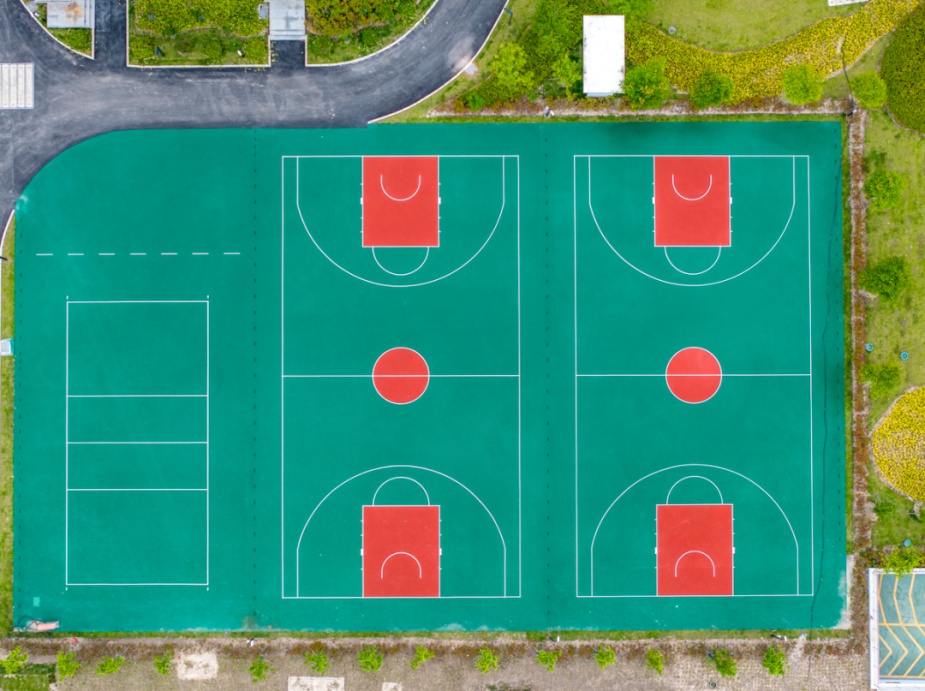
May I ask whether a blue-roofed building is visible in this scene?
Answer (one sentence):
No, there appears to be no blue-roofed building in this shot.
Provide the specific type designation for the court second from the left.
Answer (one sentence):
It turns out the court second from the left is a basketball court.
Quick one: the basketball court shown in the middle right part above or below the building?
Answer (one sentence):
In the image, the basketball court shown in the middle right part appears below the building.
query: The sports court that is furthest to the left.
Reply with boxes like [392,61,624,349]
[66,294,208,592]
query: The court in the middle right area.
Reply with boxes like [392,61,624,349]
[575,155,813,596]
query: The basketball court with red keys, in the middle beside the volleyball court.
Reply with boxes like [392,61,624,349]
[283,156,520,598]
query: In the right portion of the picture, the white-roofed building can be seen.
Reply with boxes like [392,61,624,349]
[583,14,625,101]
